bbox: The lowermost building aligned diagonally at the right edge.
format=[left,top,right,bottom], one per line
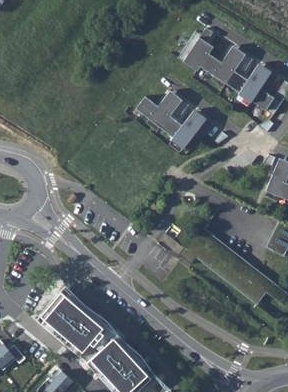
[184,232,288,308]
